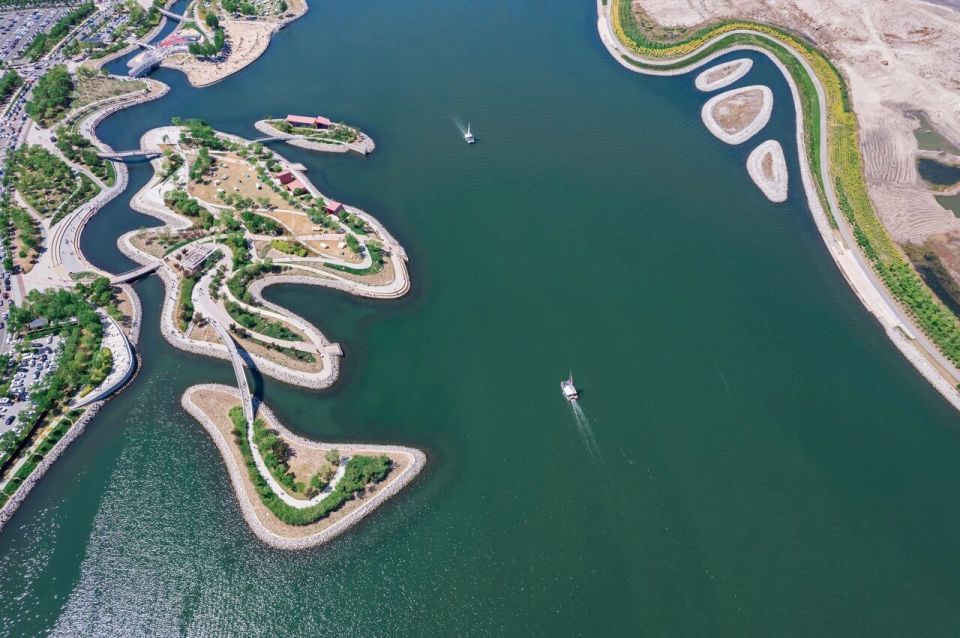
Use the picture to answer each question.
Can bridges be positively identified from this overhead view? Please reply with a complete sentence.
Yes, looking at the shot, I can spot a bridge.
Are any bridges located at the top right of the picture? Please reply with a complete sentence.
No, looking at the top right of the picture, there is no bridge.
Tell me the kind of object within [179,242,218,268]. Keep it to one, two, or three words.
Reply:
building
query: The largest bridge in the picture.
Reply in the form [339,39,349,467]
[205,314,254,419]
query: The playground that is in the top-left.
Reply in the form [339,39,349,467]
[156,28,202,49]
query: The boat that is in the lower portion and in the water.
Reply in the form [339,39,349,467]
[561,377,579,403]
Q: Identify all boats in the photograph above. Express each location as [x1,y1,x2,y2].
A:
[463,127,476,141]
[561,377,579,403]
